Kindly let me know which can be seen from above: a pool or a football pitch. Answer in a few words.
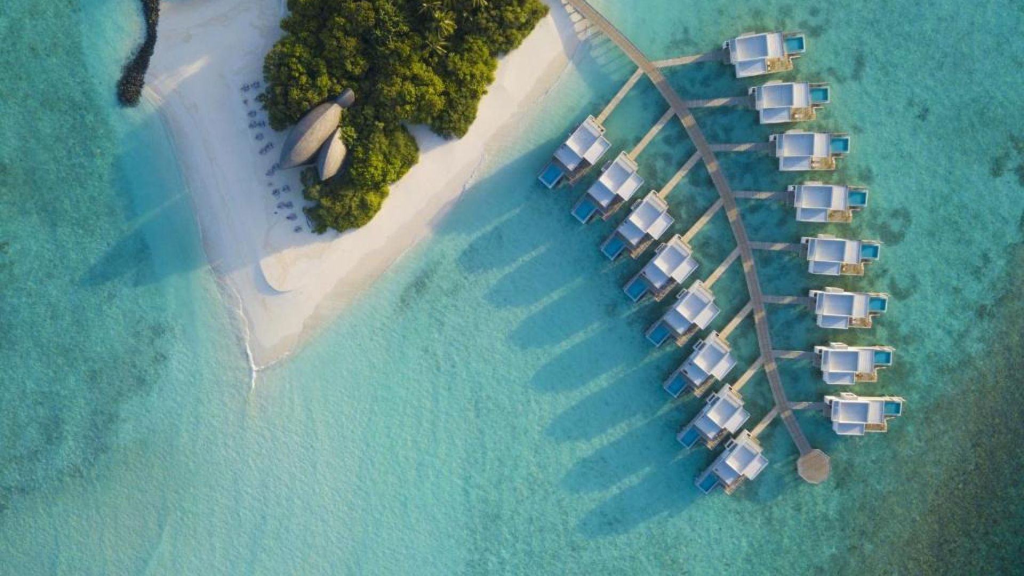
pool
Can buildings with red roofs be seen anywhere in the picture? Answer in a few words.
No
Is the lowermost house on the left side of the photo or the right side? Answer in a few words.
right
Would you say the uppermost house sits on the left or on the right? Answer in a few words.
right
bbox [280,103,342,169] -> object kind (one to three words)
building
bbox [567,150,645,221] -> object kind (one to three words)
house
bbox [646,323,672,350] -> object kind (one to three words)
swimming pool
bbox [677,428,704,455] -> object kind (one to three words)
swimming pool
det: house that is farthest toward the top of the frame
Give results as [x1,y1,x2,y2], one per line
[719,31,802,77]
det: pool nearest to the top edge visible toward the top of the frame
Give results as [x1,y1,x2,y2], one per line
[782,35,803,53]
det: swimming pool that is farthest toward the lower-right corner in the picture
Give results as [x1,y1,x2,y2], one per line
[879,399,903,416]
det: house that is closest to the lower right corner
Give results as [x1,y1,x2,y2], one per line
[819,390,904,435]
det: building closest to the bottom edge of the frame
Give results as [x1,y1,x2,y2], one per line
[691,425,770,496]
